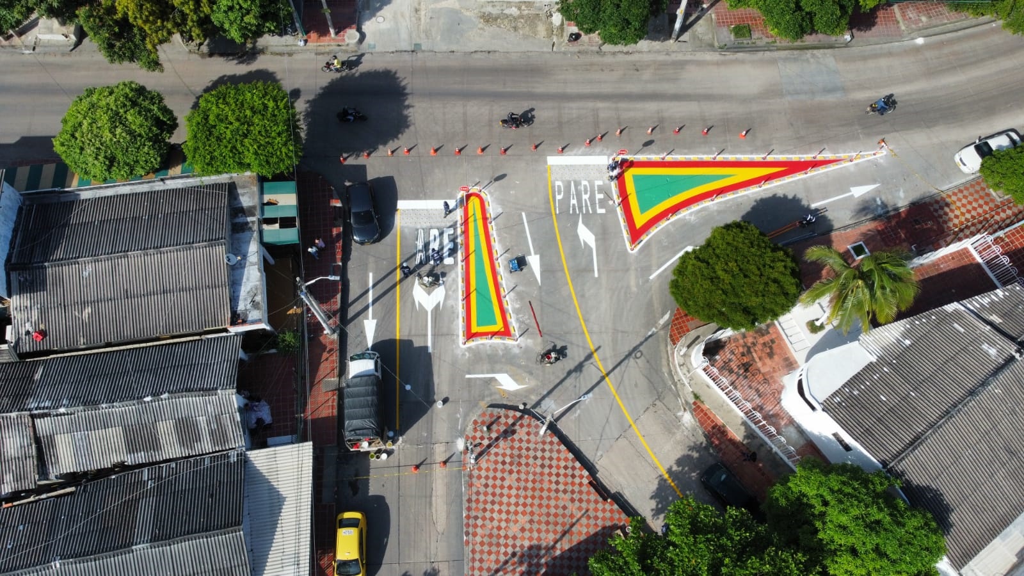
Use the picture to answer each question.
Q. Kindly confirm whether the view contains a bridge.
No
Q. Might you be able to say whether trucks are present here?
Yes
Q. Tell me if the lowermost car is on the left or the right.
left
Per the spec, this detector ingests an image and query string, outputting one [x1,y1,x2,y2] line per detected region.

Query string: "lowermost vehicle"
[331,509,368,576]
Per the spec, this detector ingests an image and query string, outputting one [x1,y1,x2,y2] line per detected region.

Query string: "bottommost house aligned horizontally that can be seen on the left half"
[0,451,253,576]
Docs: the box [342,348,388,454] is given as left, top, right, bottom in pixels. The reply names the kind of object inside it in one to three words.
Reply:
truck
